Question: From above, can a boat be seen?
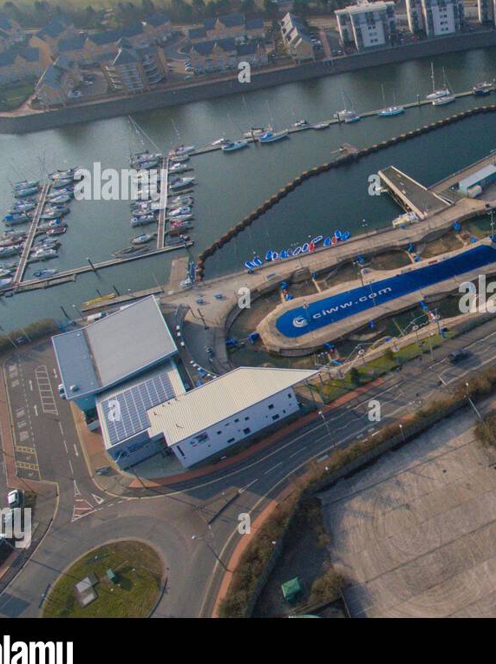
Yes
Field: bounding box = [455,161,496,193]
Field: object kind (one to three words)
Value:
shed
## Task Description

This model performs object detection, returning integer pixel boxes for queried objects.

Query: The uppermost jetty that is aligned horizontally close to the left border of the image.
[0,239,194,293]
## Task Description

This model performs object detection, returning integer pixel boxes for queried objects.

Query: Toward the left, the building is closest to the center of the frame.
[52,297,326,465]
